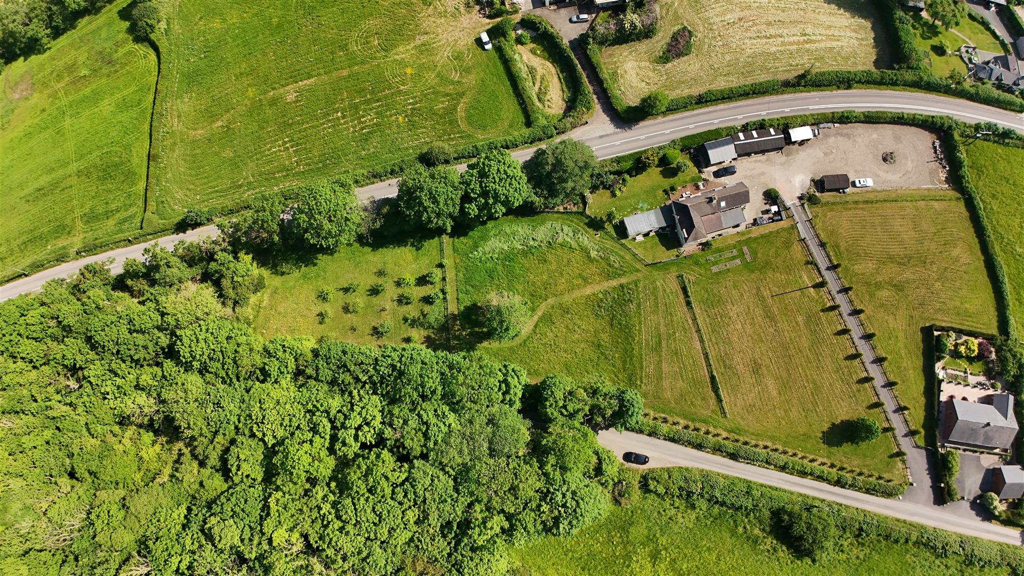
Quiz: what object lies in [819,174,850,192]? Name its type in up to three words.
shed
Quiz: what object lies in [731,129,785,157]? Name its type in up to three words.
shed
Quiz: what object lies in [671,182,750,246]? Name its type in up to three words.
house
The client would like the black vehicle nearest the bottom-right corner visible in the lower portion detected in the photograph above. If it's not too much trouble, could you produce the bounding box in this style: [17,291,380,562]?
[623,450,649,464]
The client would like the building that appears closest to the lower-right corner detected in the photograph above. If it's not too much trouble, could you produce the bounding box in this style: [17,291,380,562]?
[993,465,1024,499]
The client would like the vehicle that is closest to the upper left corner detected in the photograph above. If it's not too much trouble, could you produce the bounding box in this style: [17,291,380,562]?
[478,29,493,51]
